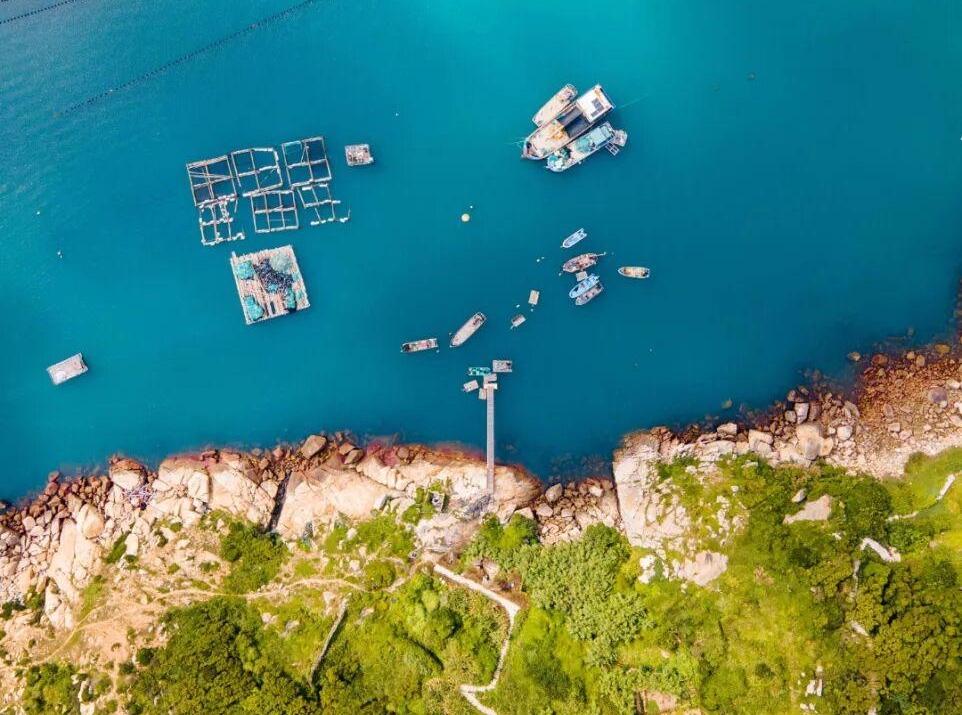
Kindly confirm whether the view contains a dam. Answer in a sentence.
No, this view has no dam in it.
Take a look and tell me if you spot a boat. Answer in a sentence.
Yes, the picture does show a boat.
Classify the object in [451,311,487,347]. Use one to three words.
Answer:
boat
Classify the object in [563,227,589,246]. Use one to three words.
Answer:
boat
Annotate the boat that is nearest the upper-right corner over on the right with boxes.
[615,128,629,148]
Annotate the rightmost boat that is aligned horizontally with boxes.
[618,266,652,278]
